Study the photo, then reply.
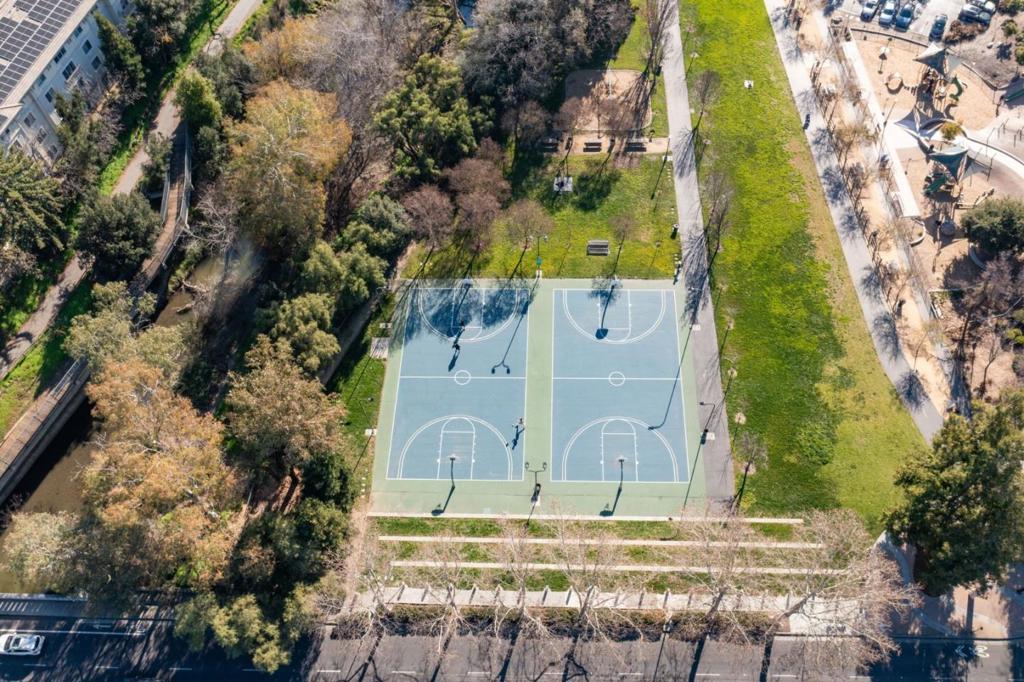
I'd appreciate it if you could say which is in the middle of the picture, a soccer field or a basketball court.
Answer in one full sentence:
Looking in the middle of the picture, you will find a basketball court.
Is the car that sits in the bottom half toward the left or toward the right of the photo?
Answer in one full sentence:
The car that sits in the bottom half appears in the left half of the scene.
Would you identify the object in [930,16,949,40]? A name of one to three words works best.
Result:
car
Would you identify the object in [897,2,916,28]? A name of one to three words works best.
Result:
car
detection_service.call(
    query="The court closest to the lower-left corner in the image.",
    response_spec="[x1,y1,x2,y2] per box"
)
[368,279,541,516]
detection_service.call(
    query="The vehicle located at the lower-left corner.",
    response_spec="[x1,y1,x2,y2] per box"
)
[0,632,44,655]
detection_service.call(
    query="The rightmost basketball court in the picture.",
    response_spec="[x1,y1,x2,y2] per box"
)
[536,279,706,519]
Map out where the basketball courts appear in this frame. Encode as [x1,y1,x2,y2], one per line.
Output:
[536,279,706,519]
[368,279,541,516]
